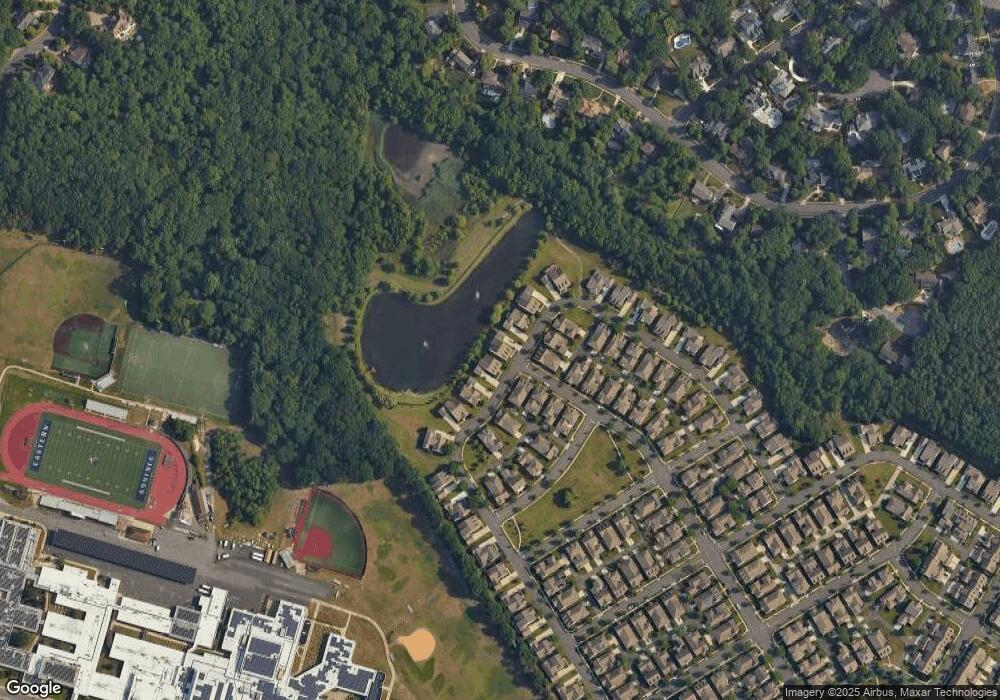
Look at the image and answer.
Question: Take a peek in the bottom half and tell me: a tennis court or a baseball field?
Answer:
baseball field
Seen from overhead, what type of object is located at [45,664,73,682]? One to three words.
solar array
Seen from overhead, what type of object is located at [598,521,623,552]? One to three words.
house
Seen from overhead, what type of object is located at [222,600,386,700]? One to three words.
building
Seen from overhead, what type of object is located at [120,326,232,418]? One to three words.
sports field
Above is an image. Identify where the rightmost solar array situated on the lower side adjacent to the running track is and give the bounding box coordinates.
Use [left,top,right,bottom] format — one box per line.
[51,529,197,585]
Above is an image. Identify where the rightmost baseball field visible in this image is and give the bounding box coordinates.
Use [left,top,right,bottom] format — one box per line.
[391,628,436,662]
